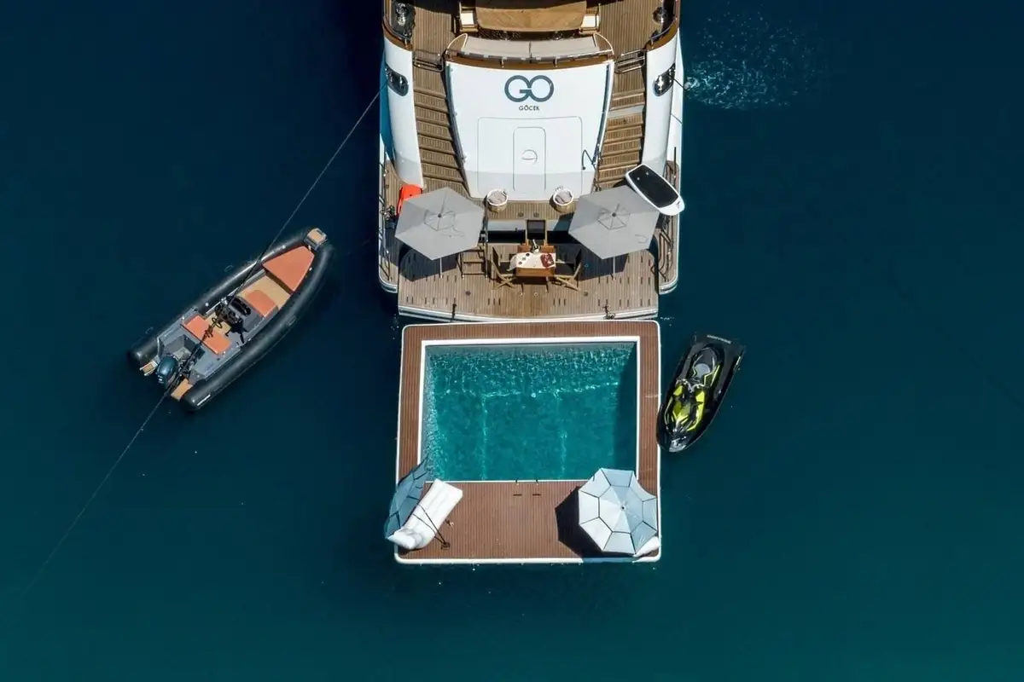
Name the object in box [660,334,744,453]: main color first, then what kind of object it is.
black boat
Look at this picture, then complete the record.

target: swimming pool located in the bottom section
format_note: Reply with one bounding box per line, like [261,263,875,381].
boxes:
[396,320,661,566]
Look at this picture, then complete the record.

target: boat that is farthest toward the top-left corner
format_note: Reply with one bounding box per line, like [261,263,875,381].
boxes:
[125,226,336,411]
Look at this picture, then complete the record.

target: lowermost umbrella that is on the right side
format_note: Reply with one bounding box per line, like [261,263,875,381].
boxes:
[577,466,659,556]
